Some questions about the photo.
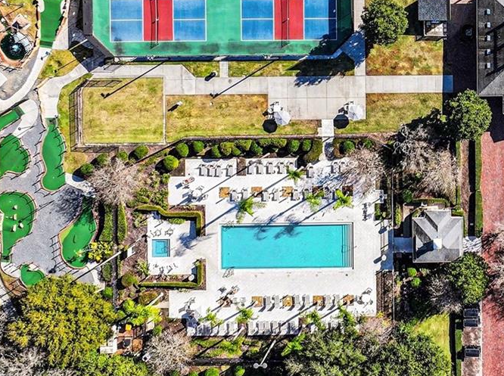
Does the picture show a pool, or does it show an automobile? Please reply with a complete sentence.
The one in the frame is a pool.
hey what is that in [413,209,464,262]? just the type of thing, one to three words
building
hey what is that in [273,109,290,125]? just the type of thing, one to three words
umbrella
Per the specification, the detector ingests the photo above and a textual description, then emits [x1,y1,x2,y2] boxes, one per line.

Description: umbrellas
[181,311,198,329]
[273,109,290,125]
[348,104,363,121]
